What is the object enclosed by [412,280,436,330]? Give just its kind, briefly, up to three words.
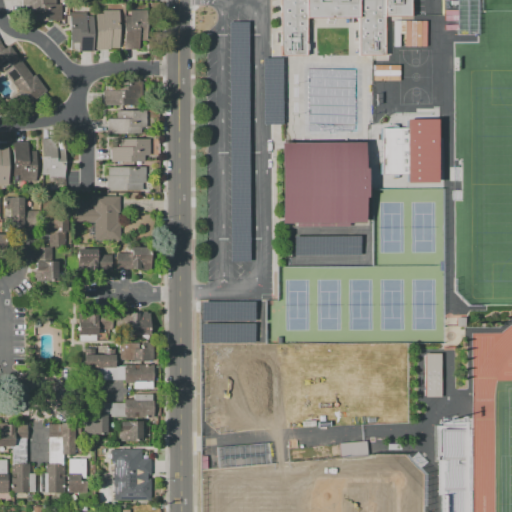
tennis court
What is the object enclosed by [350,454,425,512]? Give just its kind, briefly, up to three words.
baseball field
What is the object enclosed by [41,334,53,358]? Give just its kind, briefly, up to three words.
swimming pool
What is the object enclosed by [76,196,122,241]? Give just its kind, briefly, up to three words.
house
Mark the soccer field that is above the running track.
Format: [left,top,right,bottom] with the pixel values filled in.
[456,0,512,304]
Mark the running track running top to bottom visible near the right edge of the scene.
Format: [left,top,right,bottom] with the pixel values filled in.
[473,326,512,512]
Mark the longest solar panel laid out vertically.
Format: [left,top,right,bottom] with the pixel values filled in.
[230,20,251,261]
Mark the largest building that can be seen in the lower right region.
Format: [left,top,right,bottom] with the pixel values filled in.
[424,353,444,398]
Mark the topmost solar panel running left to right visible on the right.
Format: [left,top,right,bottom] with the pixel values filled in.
[296,236,363,255]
